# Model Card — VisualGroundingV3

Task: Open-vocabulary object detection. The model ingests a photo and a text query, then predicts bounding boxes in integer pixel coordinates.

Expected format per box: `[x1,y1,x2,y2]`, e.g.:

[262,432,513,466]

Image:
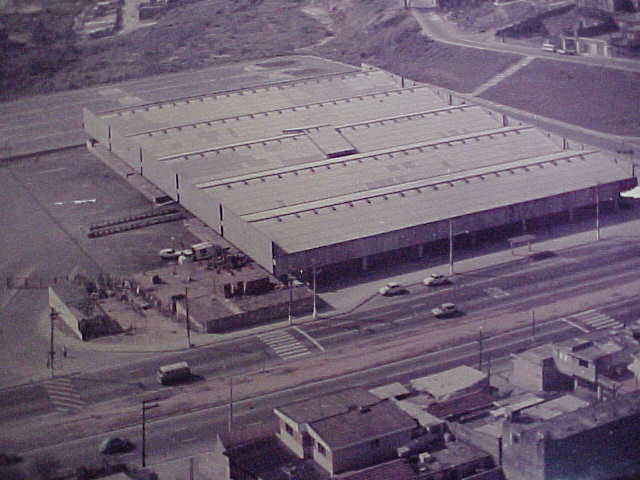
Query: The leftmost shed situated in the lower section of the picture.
[42,280,105,339]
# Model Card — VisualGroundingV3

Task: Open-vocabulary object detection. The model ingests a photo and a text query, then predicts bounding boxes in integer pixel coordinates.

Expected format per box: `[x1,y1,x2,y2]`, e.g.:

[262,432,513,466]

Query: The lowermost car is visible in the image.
[98,437,133,454]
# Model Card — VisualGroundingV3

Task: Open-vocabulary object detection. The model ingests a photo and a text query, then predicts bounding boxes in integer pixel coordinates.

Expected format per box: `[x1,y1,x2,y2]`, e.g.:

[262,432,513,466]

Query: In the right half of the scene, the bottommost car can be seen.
[430,302,460,317]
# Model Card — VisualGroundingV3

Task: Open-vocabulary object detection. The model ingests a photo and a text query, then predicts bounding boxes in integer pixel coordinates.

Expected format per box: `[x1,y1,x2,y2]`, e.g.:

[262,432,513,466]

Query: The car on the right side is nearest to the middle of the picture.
[378,281,406,294]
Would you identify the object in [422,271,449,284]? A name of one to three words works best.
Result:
vehicle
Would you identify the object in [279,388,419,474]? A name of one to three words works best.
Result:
house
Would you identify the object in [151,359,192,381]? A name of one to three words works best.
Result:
vehicle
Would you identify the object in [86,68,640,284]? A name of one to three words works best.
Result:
building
